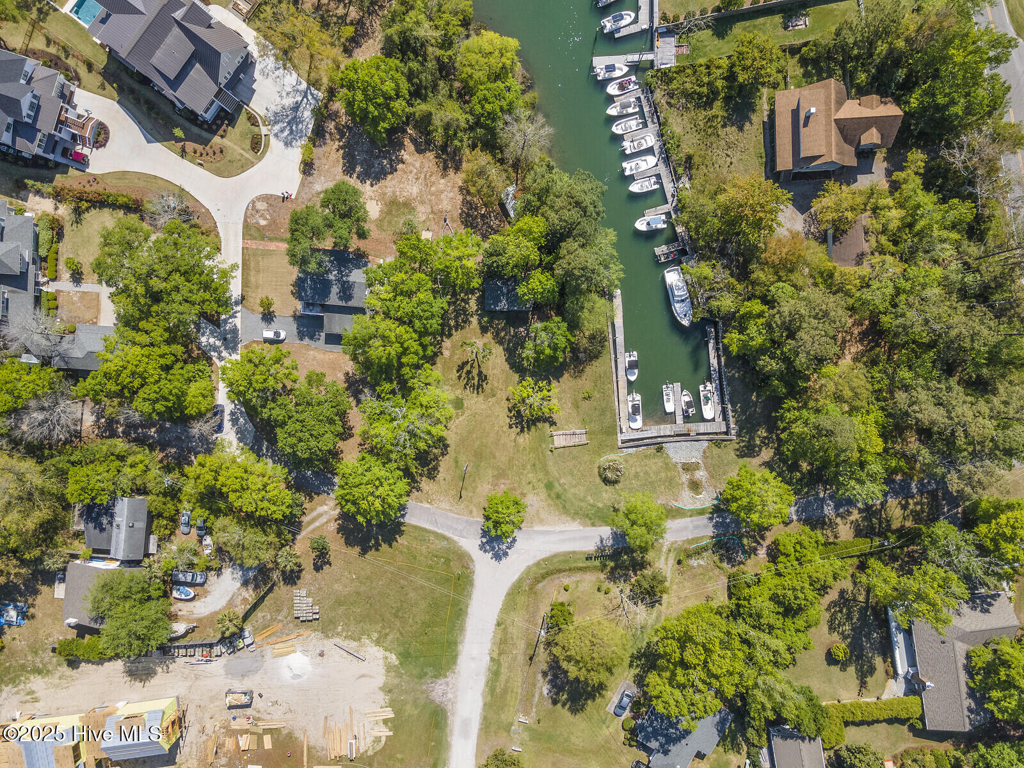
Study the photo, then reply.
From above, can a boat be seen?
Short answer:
Yes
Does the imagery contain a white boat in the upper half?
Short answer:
Yes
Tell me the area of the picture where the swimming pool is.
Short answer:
top left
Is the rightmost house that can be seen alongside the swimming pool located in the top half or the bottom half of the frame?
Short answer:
top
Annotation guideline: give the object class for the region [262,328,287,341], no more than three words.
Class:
vehicle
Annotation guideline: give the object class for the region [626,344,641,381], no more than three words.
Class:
boat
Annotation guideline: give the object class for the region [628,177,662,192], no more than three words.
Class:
boat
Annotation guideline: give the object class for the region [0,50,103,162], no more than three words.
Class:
house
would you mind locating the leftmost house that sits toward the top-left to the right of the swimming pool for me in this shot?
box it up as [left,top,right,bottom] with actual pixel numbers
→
[87,0,257,128]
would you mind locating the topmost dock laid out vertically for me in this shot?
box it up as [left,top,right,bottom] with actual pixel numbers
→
[613,87,693,256]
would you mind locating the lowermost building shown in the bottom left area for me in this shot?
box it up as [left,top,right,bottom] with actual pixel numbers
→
[0,694,191,768]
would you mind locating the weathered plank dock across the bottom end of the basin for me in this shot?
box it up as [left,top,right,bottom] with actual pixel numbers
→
[621,421,727,440]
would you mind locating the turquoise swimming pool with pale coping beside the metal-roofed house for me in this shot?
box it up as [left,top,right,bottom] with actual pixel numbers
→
[66,0,103,28]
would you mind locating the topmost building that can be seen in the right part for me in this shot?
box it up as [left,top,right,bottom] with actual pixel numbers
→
[769,79,904,183]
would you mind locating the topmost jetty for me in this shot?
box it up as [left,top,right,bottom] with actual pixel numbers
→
[615,0,652,39]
